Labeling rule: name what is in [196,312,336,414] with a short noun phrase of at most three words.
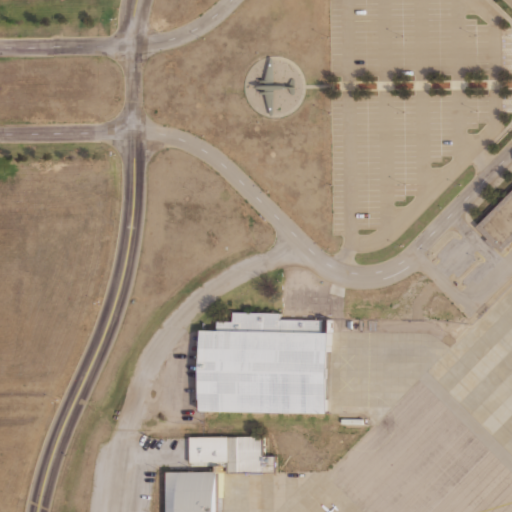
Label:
hangar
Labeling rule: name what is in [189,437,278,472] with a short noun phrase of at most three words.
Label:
building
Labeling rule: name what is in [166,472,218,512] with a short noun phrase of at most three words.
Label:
shed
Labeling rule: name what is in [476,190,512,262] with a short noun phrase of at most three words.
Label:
building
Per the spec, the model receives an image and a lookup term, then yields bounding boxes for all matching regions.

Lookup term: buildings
[476,190,512,262]
[166,472,218,512]
[189,437,278,472]
[196,312,336,414]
